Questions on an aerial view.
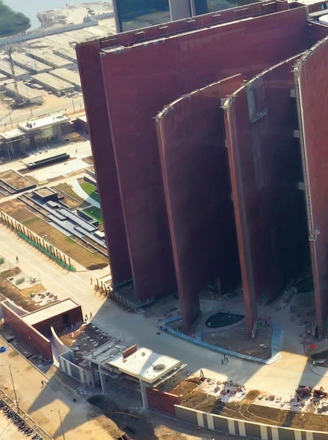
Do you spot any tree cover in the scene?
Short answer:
No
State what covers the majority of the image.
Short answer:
buildings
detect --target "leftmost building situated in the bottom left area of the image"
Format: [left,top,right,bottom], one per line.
[0,298,84,360]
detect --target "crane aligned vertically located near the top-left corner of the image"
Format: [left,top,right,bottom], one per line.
[0,15,28,107]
